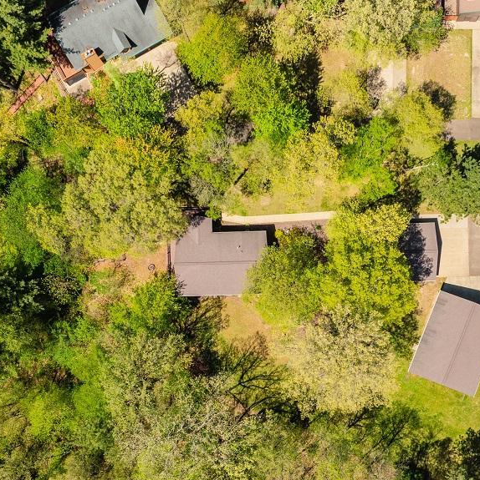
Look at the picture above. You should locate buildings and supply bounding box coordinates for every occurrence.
[397,221,438,282]
[439,0,480,21]
[408,291,480,397]
[171,208,267,295]
[43,0,172,87]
